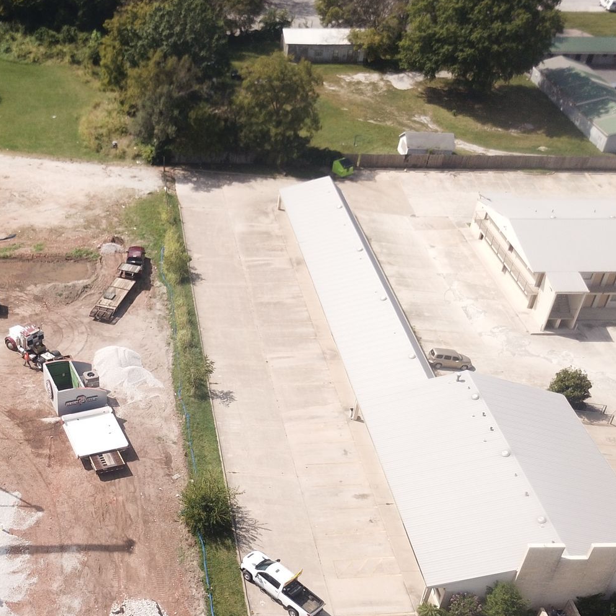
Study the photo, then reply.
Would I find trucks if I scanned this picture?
Yes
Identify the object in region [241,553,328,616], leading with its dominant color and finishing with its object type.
white truck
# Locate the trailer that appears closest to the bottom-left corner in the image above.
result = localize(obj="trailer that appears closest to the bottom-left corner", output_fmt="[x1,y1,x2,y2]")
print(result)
[88,452,127,478]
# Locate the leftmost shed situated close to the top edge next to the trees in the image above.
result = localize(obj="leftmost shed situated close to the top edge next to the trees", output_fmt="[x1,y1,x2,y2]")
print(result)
[279,27,371,62]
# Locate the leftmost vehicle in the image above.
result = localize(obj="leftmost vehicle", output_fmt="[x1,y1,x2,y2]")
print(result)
[0,318,59,377]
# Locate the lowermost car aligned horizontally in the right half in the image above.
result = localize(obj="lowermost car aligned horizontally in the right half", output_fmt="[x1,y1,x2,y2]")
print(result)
[425,344,475,367]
